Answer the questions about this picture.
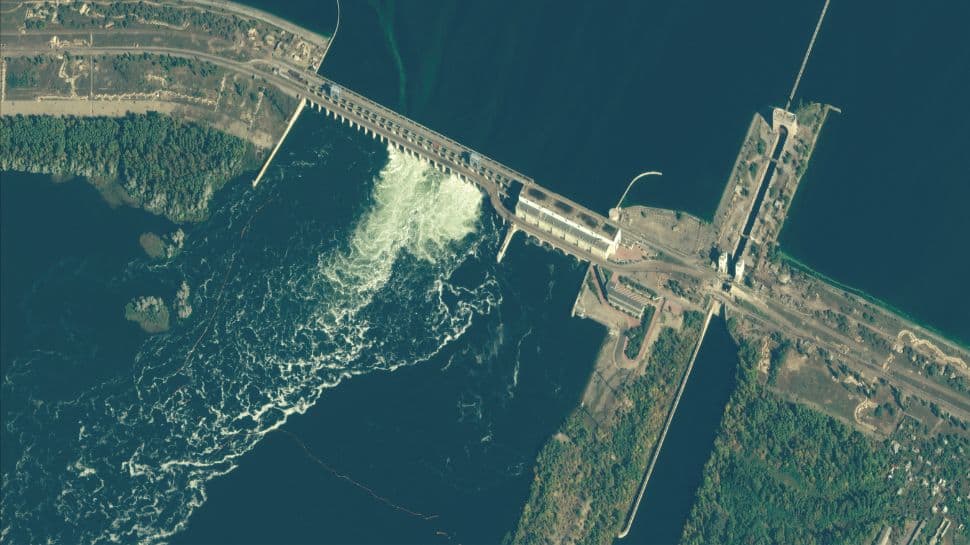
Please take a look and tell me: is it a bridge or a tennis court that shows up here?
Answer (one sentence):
The one in the frame is a bridge.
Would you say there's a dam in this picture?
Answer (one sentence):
Yes, the image includes a dam.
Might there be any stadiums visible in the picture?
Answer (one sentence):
No, no stadium is visible in the view.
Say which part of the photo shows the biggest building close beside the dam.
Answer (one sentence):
The biggest building close beside the dam is in the center part of the image.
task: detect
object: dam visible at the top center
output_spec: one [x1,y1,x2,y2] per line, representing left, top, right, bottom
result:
[296,72,531,193]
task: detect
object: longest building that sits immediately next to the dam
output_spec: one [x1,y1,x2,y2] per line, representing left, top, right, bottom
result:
[512,181,633,260]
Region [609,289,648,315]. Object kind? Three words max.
building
